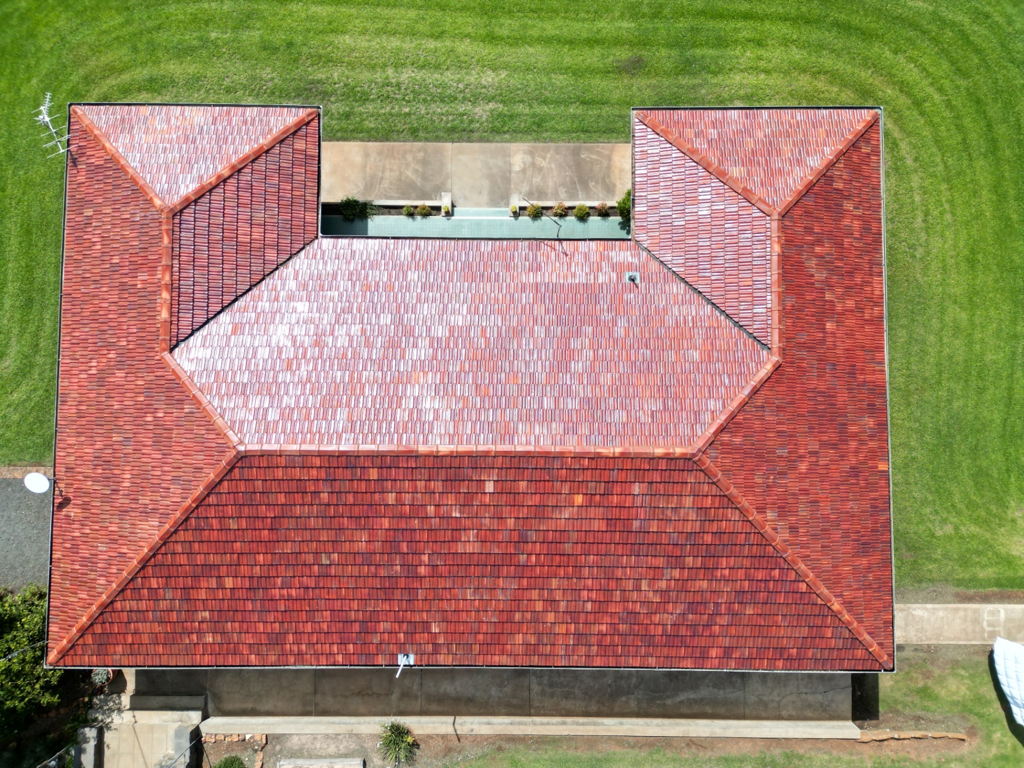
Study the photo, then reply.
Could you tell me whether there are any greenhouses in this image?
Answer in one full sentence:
No, I can't see a single greenhouse in this photo.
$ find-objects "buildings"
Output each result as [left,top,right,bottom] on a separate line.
[45,104,896,678]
